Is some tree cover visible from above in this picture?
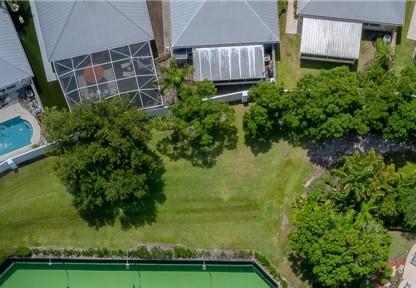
Yes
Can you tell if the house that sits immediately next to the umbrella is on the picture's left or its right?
left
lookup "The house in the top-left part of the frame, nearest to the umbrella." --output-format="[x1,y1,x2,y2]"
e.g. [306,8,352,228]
[35,0,154,67]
